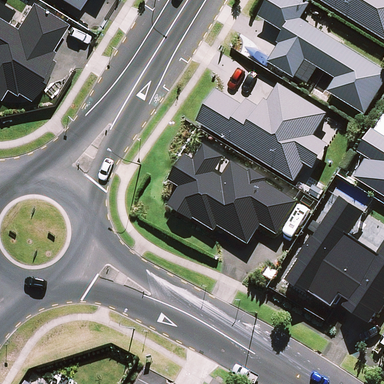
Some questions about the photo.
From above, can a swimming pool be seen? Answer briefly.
Yes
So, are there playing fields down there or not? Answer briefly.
No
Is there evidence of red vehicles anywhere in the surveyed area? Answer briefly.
Yes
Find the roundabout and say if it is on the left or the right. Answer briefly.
left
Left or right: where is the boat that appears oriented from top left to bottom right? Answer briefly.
right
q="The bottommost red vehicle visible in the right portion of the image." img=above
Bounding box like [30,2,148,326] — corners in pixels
[228,66,245,89]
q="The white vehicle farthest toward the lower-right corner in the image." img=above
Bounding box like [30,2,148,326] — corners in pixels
[232,363,260,384]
